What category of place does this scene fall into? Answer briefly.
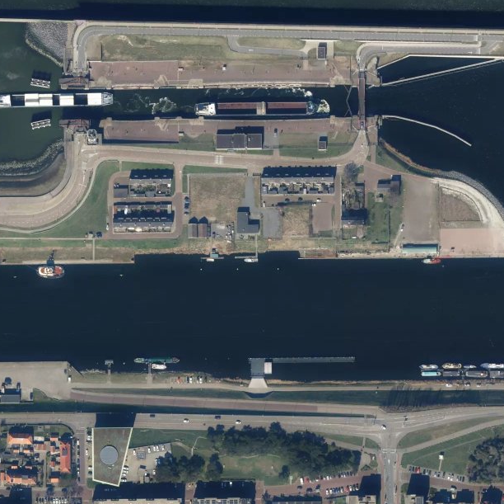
port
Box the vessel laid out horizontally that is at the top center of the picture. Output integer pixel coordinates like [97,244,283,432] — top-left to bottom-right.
[196,102,316,114]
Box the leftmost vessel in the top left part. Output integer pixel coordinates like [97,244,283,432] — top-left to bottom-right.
[0,93,113,107]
